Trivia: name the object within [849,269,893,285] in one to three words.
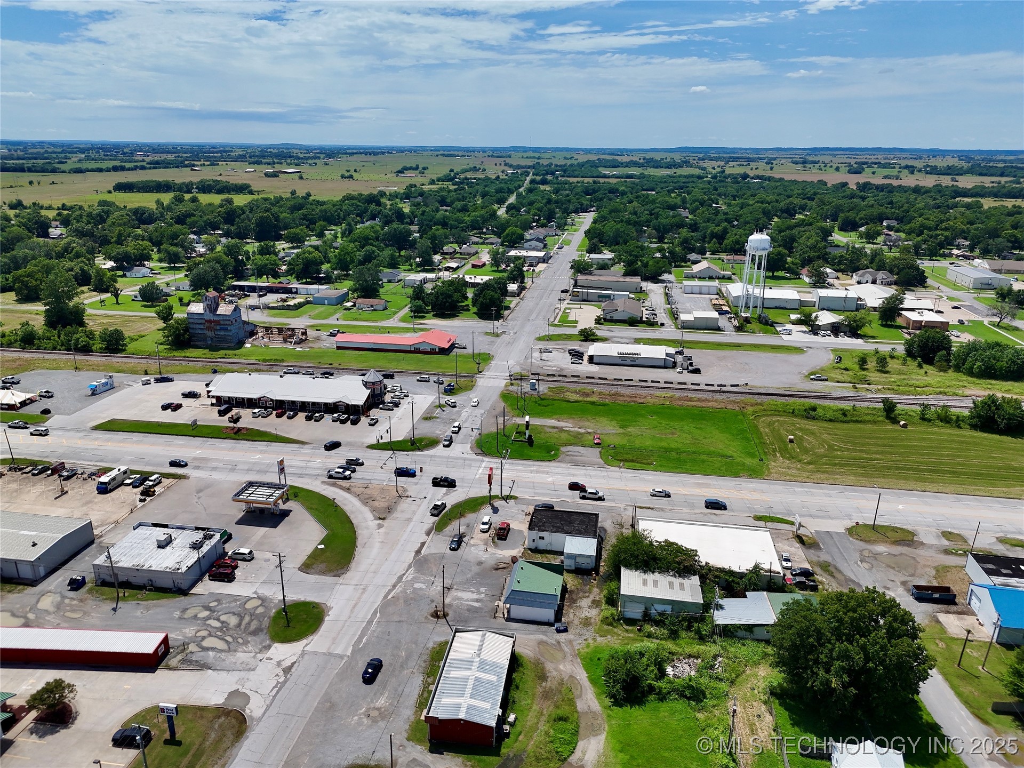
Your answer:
house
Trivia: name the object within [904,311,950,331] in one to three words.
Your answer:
building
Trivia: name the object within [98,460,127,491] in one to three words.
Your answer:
camper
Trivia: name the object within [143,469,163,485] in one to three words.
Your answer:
car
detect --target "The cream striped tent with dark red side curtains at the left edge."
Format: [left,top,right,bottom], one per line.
[0,381,37,410]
